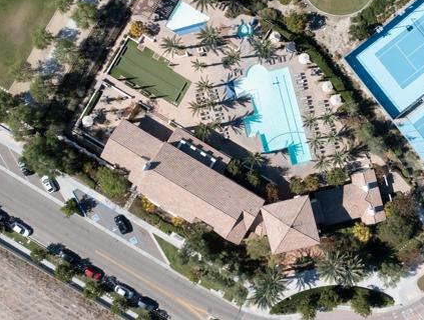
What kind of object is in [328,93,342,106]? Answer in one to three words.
umbrella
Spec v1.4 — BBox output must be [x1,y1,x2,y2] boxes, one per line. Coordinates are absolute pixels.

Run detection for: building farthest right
[343,168,385,223]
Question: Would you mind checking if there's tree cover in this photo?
Yes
